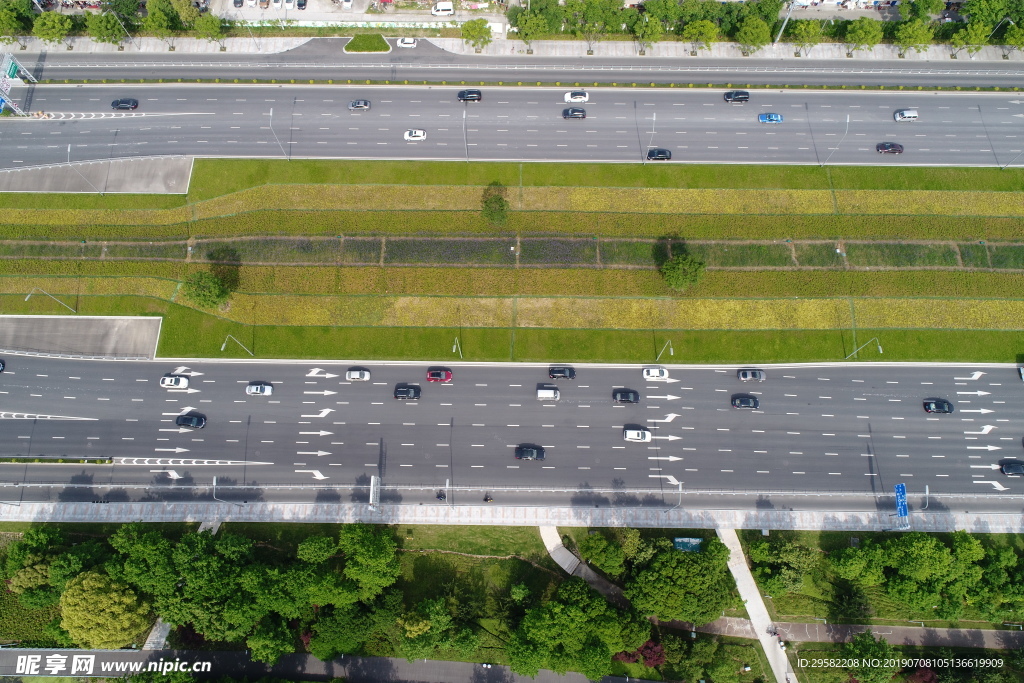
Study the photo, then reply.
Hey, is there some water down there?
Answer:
No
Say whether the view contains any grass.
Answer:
Yes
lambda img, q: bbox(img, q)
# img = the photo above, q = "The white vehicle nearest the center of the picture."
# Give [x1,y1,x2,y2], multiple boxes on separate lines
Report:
[535,389,561,401]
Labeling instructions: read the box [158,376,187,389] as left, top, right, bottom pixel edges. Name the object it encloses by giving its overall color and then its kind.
white vehicle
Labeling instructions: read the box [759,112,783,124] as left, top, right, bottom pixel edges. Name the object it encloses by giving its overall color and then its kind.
blue vehicle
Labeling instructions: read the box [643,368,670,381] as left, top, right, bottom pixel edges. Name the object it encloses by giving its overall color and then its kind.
white vehicle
